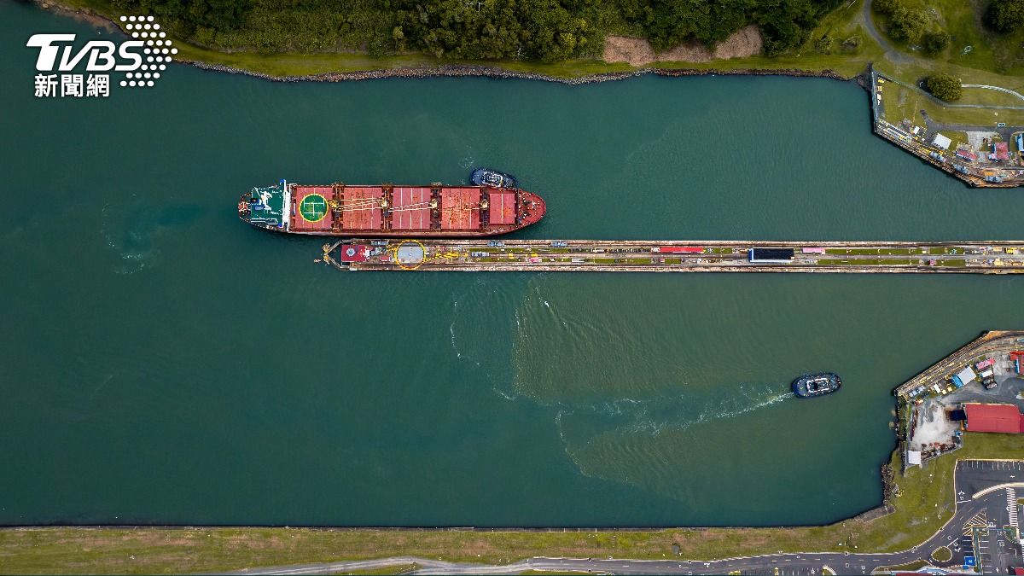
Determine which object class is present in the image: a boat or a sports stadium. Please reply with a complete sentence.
Looking from above, you can make out a boat.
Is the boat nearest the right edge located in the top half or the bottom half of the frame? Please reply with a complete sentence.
The boat nearest the right edge is in the bottom half of the image.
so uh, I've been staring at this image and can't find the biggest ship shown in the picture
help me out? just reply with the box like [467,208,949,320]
[237,179,547,237]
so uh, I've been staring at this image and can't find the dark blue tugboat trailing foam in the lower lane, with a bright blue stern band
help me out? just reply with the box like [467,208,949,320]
[792,374,841,396]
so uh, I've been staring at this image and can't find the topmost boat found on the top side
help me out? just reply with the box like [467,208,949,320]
[470,167,518,187]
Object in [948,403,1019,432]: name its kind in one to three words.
building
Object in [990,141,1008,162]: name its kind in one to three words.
building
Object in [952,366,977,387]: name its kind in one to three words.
shed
